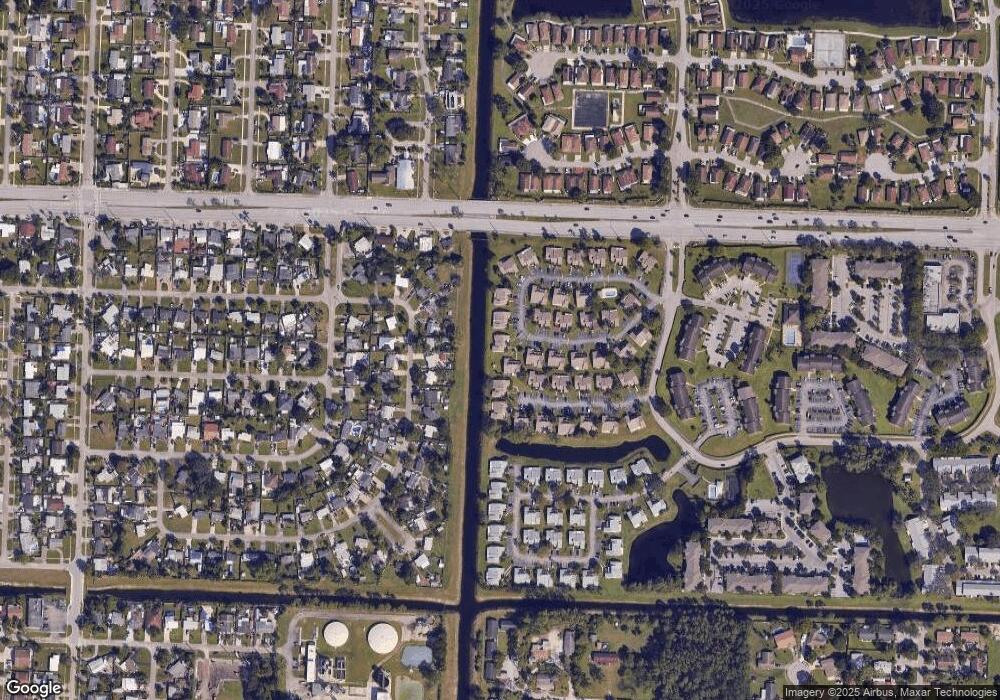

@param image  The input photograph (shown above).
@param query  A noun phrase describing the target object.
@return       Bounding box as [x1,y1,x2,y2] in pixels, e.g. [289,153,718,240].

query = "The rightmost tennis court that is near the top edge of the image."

[814,32,846,68]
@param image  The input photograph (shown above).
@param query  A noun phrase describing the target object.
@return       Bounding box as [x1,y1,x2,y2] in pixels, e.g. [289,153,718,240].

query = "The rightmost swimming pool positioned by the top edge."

[786,32,804,48]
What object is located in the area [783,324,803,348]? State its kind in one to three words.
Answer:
swimming pool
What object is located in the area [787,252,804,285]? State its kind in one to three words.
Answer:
tennis court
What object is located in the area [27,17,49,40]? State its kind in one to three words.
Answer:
house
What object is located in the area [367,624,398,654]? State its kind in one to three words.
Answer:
storage tank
